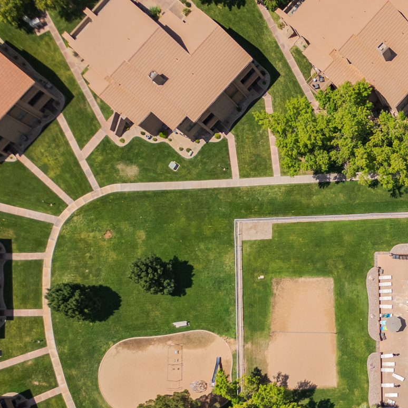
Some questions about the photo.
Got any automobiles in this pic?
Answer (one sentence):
No, there appears to be no automobile in this shot.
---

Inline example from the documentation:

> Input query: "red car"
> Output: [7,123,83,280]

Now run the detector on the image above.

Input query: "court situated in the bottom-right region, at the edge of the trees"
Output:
[265,277,336,389]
